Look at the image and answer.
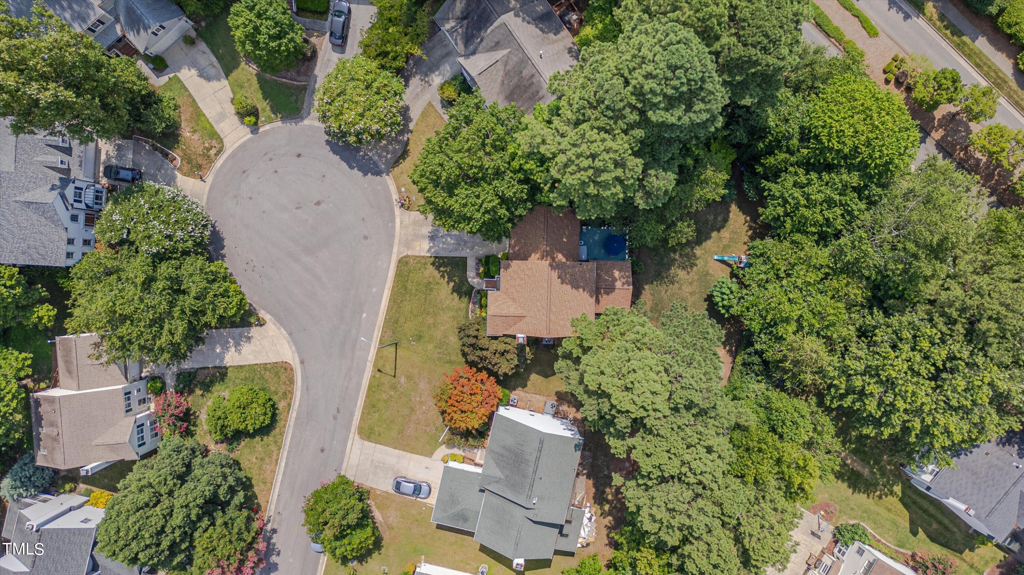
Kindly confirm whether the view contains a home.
Yes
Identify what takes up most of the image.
trees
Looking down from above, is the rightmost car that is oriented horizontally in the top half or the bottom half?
bottom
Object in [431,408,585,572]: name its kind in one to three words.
house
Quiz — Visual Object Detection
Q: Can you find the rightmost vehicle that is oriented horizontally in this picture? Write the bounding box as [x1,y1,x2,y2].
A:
[390,479,431,501]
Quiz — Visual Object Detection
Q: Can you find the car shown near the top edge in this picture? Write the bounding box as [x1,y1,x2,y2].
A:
[328,1,349,44]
